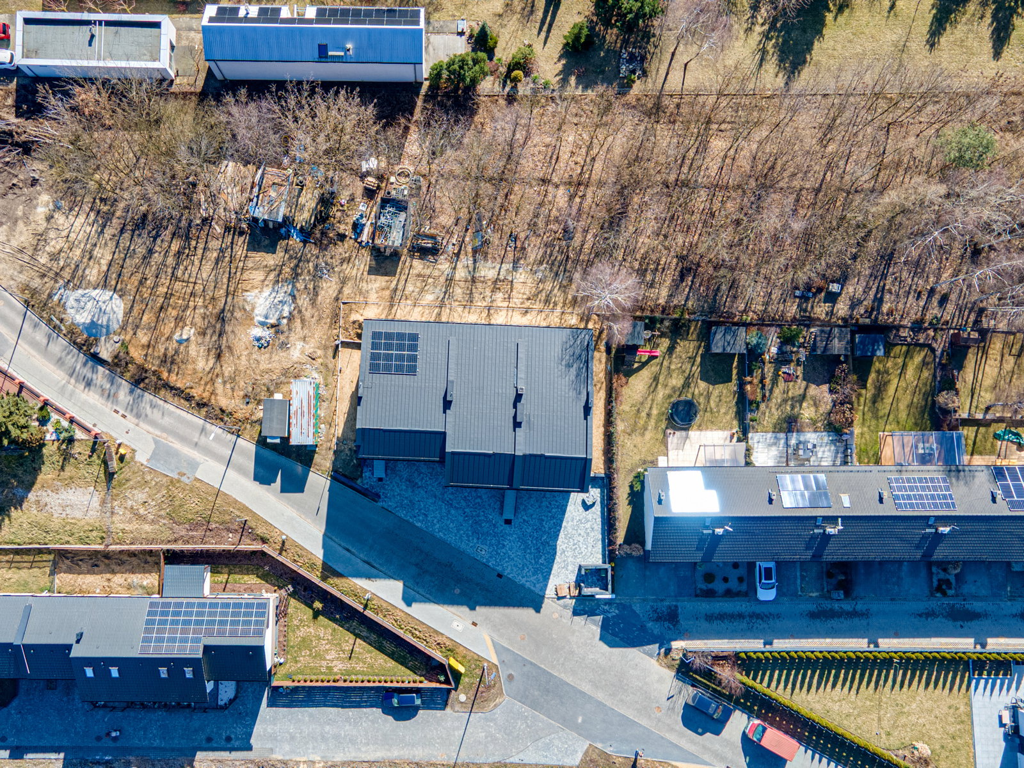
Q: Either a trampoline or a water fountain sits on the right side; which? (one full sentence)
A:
There is a trampoline on the right side.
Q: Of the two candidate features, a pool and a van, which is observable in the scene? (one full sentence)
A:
The image shows a van.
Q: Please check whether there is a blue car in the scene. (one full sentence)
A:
Yes, you can see a blue car in this photo.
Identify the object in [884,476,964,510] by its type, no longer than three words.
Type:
solar array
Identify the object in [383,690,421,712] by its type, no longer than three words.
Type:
car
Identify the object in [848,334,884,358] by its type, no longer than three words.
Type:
shed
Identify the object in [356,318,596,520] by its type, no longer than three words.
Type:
house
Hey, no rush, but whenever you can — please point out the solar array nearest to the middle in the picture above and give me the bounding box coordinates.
[370,330,418,373]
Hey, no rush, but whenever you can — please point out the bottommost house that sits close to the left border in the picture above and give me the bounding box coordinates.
[0,565,283,703]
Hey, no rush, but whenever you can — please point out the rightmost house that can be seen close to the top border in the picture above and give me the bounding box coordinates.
[202,7,425,86]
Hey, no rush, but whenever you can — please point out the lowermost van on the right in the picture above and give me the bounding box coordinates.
[745,718,802,761]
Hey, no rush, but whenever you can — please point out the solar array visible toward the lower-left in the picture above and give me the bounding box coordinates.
[138,599,270,653]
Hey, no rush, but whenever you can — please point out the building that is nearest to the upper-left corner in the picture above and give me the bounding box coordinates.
[15,10,177,80]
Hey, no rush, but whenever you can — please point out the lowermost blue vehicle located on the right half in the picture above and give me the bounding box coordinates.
[686,690,733,722]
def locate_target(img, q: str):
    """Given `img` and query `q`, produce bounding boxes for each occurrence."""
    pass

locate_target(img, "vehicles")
[0,22,13,42]
[383,690,421,712]
[756,562,777,600]
[745,718,802,761]
[686,690,733,722]
[0,49,18,70]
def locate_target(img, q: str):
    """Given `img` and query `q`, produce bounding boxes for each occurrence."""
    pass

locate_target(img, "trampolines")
[670,397,705,428]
